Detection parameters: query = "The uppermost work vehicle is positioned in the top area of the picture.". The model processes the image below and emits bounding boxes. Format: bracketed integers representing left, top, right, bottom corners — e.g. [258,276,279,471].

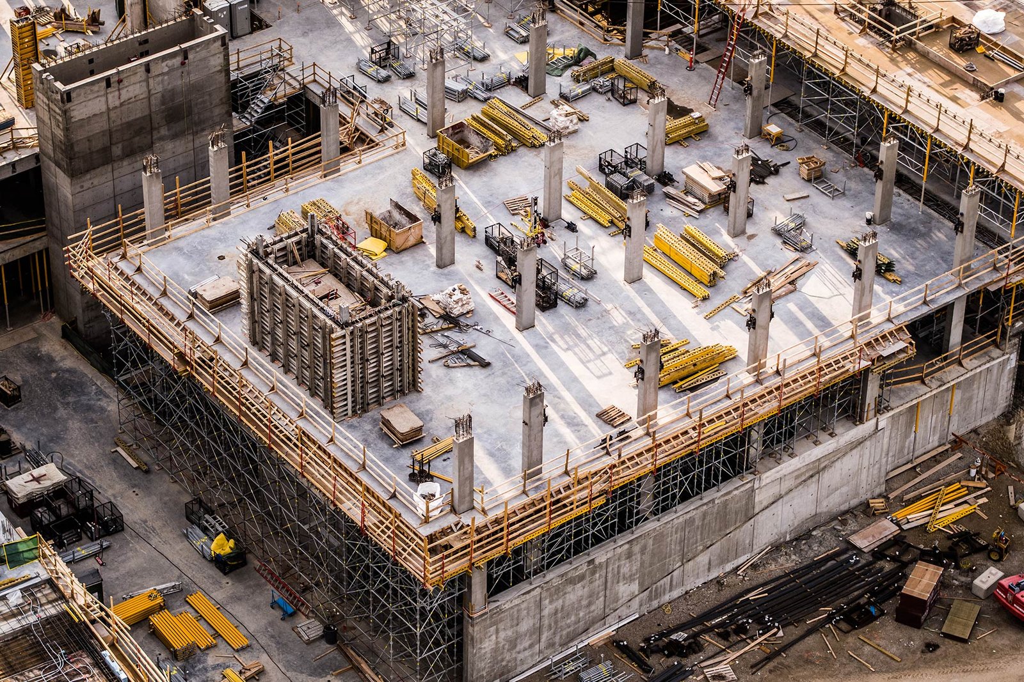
[516,199,549,248]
